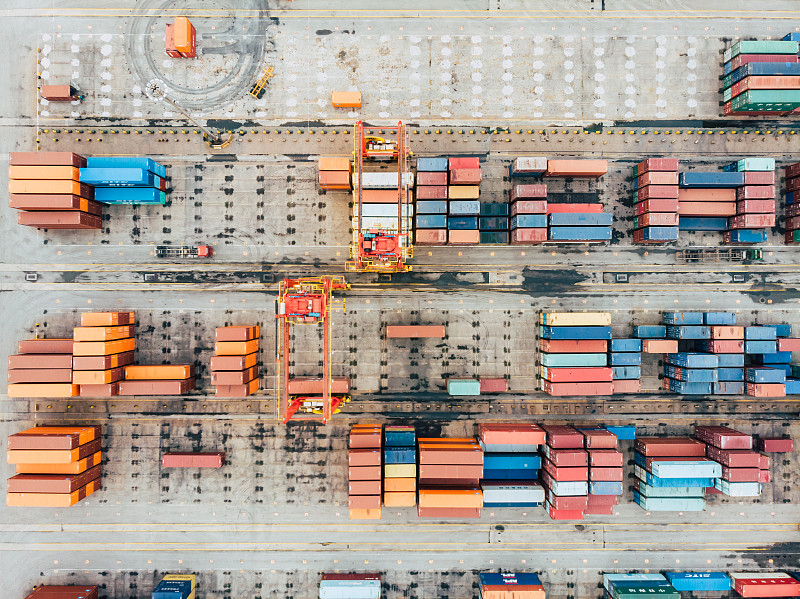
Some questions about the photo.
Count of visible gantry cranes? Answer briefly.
2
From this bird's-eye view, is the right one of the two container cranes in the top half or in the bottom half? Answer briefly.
top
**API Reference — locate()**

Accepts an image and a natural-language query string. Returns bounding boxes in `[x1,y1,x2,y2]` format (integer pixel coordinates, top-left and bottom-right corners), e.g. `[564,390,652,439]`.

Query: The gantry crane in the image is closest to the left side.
[275,275,357,425]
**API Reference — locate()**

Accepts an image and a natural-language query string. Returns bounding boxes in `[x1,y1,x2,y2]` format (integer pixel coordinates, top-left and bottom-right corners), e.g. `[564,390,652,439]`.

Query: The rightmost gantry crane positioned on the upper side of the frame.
[342,119,418,277]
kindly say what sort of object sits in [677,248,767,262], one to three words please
vehicle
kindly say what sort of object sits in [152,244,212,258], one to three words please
vehicle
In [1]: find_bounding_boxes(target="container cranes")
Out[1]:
[275,275,357,425]
[342,119,418,277]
